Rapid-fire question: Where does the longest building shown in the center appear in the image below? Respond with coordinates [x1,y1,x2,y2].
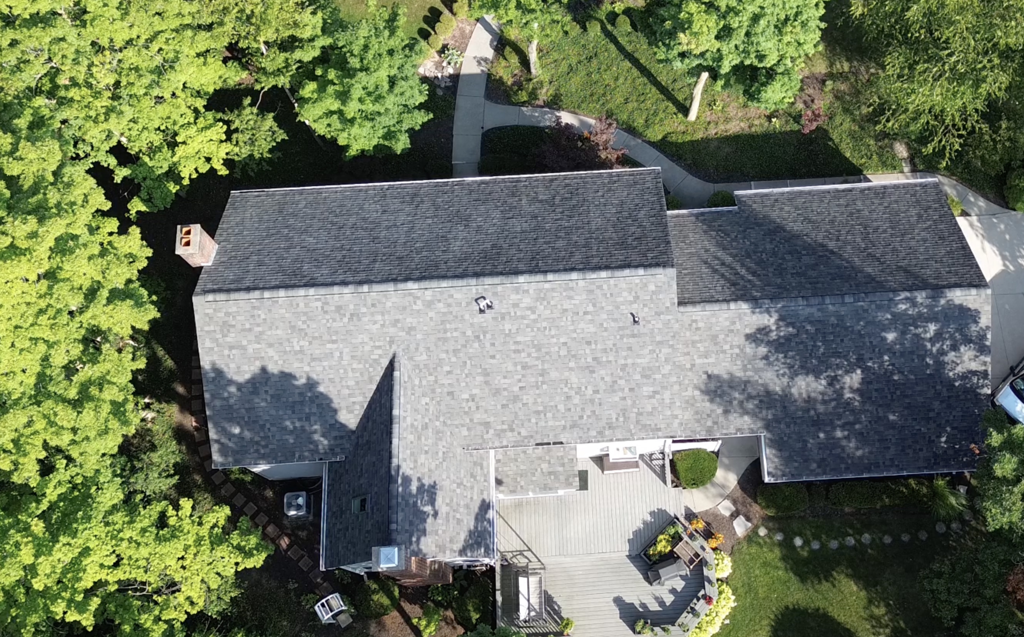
[176,163,992,585]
